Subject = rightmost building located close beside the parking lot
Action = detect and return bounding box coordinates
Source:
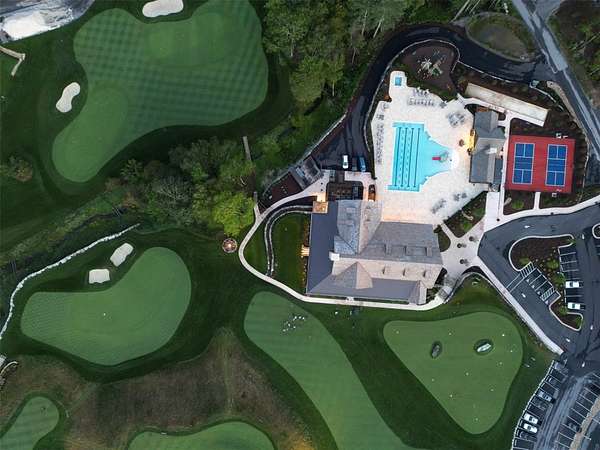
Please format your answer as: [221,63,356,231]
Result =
[468,110,510,186]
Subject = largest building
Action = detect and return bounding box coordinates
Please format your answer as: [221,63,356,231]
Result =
[306,200,440,305]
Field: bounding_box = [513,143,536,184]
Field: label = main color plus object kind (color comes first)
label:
blue sports court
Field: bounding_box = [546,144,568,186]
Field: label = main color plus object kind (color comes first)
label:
blue sports court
